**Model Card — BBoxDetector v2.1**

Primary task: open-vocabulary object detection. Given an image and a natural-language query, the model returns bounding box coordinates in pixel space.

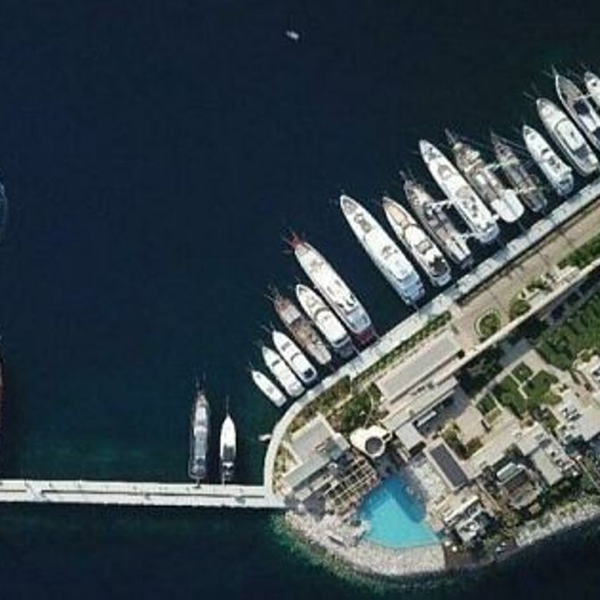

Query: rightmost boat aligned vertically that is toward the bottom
[219,405,238,487]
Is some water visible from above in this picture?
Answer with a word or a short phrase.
Yes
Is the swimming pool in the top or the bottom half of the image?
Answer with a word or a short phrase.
bottom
